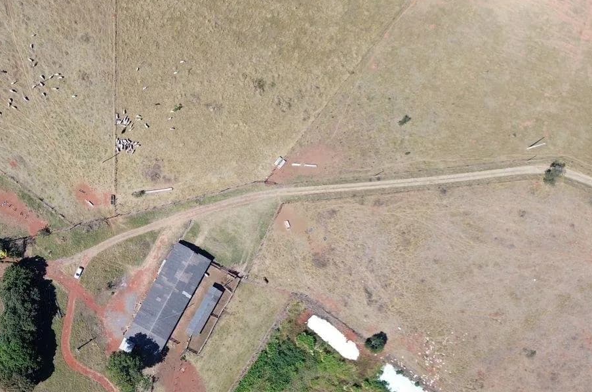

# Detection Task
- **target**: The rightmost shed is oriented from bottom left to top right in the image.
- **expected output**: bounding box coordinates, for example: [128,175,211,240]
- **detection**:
[185,286,224,335]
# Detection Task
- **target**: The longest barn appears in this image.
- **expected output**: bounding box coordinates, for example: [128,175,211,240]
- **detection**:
[120,244,213,362]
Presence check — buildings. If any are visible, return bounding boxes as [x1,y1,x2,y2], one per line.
[120,244,213,362]
[185,286,224,335]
